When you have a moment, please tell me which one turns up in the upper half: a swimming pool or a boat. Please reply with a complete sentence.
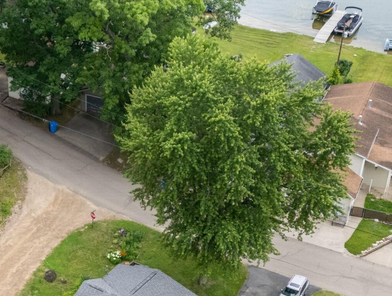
Looking in the upper half, you will find a boat.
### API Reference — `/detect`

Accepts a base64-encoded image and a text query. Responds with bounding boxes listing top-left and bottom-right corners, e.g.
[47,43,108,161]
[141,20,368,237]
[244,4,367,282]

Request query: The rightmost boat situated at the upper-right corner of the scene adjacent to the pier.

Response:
[335,5,364,34]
